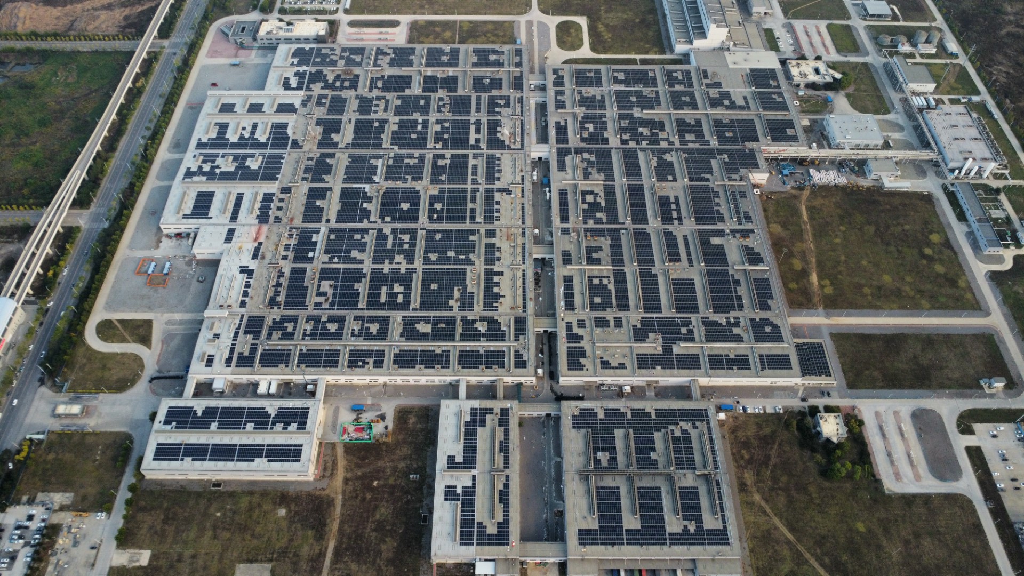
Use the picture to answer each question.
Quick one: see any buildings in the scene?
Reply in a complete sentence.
Yes, the photo shows a building.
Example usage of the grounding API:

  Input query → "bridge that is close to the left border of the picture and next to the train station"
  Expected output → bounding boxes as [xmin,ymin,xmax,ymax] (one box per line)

[0,0,175,315]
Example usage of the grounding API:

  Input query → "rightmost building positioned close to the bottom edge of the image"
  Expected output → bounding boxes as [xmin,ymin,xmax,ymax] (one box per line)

[560,401,744,576]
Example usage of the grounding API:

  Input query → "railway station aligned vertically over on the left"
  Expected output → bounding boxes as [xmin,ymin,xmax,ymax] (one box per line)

[0,302,34,385]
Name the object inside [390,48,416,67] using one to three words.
solar array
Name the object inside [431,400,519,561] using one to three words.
building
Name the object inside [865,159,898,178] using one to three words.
building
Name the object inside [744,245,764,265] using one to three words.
solar array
